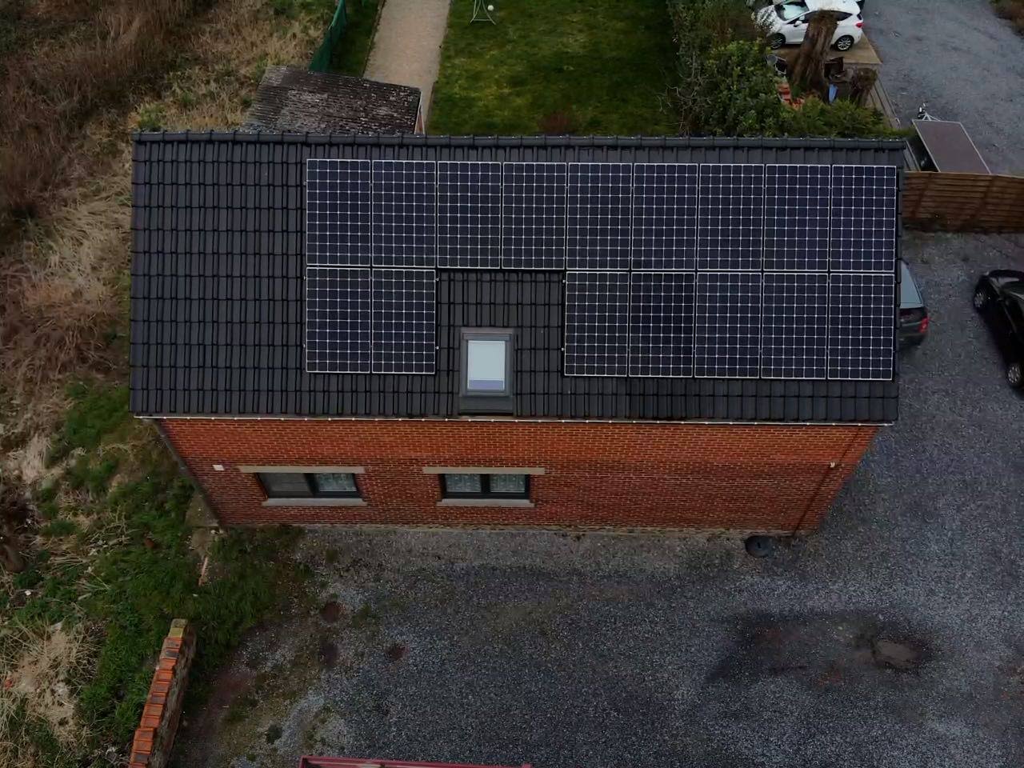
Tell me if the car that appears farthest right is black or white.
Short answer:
black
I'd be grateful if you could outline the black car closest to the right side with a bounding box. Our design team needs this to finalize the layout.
[975,274,1024,390]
